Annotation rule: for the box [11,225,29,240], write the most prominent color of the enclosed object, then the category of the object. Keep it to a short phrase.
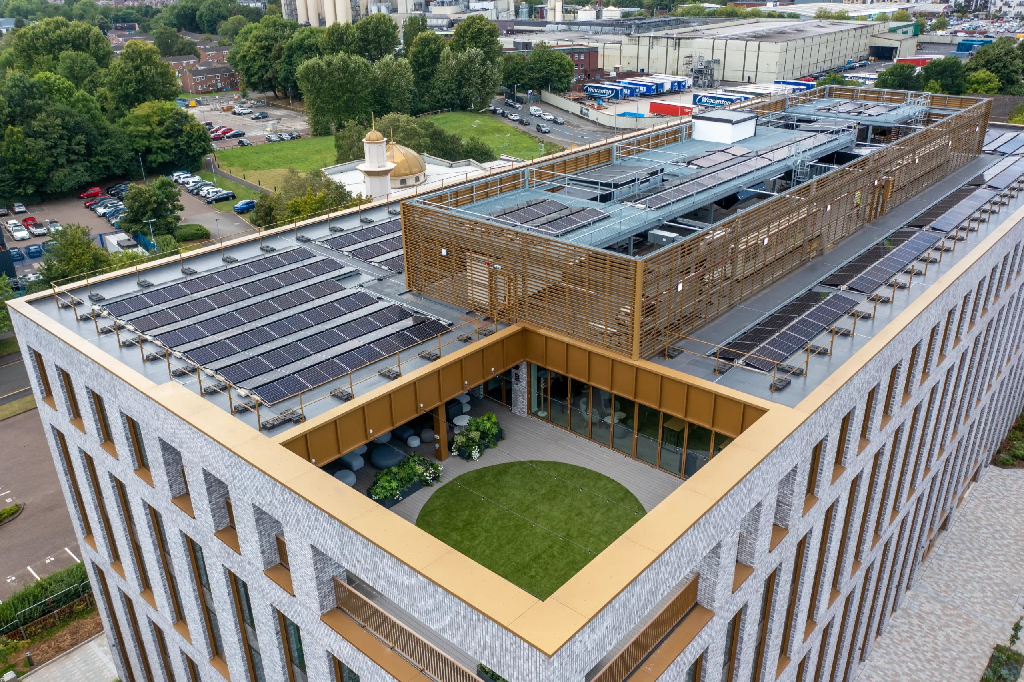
white car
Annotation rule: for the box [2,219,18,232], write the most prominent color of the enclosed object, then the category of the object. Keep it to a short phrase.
white vehicle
